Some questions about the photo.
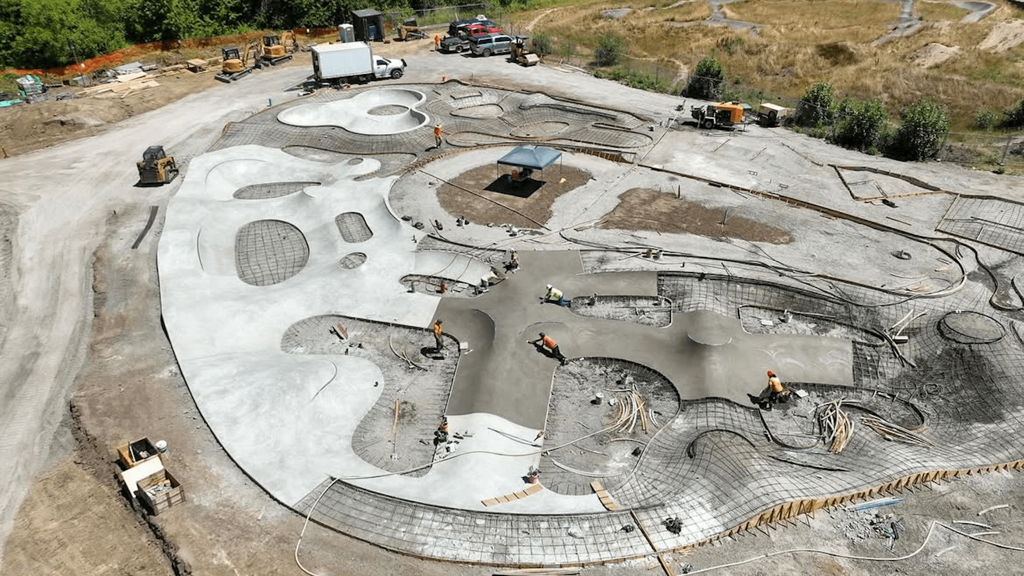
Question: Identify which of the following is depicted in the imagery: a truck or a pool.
truck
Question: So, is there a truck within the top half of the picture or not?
Yes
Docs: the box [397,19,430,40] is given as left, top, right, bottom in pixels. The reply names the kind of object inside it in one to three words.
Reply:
work vehicle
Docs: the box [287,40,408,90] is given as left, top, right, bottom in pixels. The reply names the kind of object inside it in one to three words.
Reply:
truck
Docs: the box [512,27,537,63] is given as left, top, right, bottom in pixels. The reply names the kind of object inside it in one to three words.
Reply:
work vehicle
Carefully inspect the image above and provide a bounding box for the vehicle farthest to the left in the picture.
[134,143,177,188]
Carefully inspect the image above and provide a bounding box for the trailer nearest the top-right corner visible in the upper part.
[756,98,797,126]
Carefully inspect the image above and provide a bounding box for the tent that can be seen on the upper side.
[502,136,566,183]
